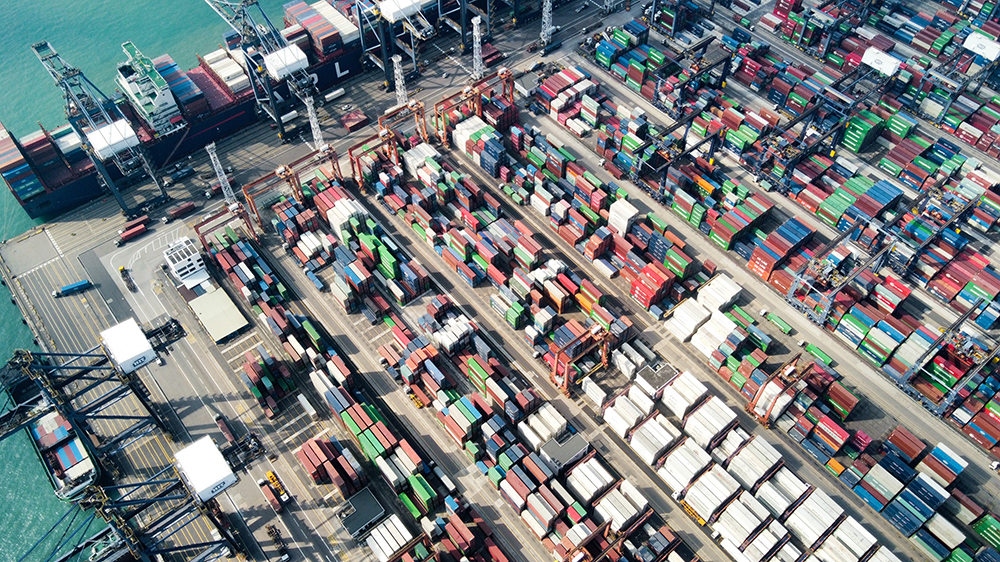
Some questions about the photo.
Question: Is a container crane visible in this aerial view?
Yes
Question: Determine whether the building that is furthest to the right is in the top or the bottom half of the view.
bottom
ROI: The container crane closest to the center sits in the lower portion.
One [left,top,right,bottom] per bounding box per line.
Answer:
[550,321,612,393]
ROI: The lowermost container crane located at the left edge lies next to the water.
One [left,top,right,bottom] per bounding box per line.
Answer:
[4,429,267,562]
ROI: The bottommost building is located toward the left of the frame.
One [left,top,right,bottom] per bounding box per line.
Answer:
[342,487,386,540]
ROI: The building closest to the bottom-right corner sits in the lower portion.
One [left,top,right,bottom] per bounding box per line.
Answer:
[636,364,680,396]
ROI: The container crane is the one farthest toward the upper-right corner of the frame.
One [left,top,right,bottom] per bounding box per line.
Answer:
[941,1,1000,73]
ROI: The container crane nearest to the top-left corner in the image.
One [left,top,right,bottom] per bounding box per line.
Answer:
[28,42,178,222]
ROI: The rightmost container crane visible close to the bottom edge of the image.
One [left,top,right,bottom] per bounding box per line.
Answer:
[561,510,632,562]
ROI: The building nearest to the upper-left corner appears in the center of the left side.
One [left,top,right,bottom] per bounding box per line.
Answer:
[161,236,206,282]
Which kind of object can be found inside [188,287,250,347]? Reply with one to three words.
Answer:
building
